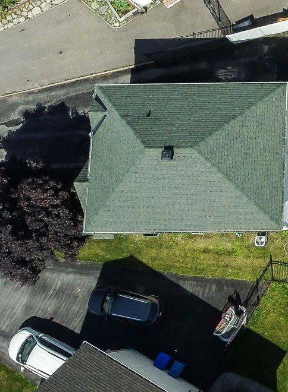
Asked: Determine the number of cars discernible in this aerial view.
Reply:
2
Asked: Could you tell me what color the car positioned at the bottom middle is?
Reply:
black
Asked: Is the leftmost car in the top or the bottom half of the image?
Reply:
bottom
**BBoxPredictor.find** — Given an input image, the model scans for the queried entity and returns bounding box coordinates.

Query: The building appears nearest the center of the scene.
[74,81,288,245]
